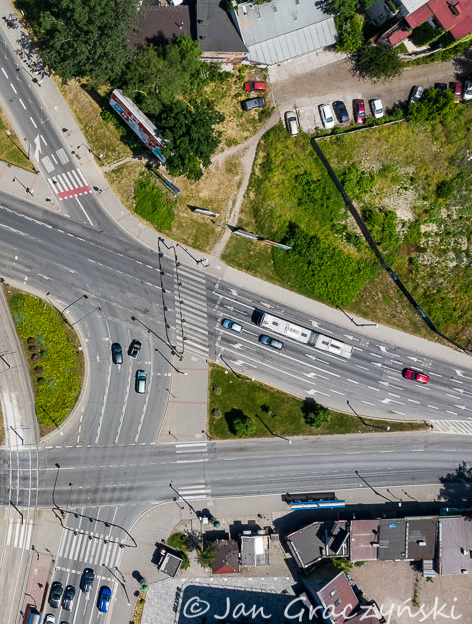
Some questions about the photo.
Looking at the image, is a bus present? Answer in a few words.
Yes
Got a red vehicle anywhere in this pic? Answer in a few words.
Yes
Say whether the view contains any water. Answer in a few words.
No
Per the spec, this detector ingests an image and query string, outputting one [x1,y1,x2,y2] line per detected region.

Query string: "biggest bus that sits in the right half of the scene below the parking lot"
[249,304,357,359]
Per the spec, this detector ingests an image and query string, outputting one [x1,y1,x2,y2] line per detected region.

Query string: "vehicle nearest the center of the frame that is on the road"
[220,318,243,333]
